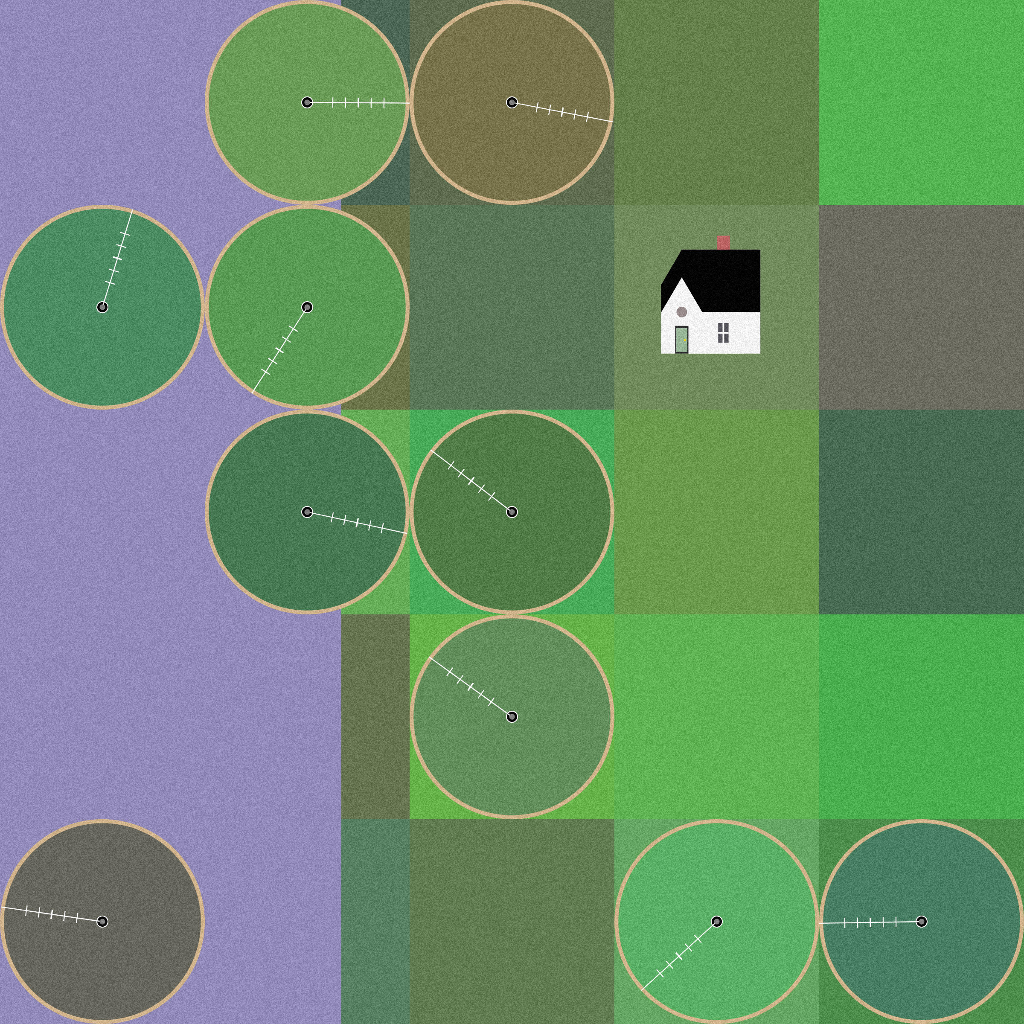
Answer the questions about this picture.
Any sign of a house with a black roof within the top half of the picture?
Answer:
Yes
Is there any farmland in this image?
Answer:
Yes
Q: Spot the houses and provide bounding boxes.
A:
[661,236,761,354]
